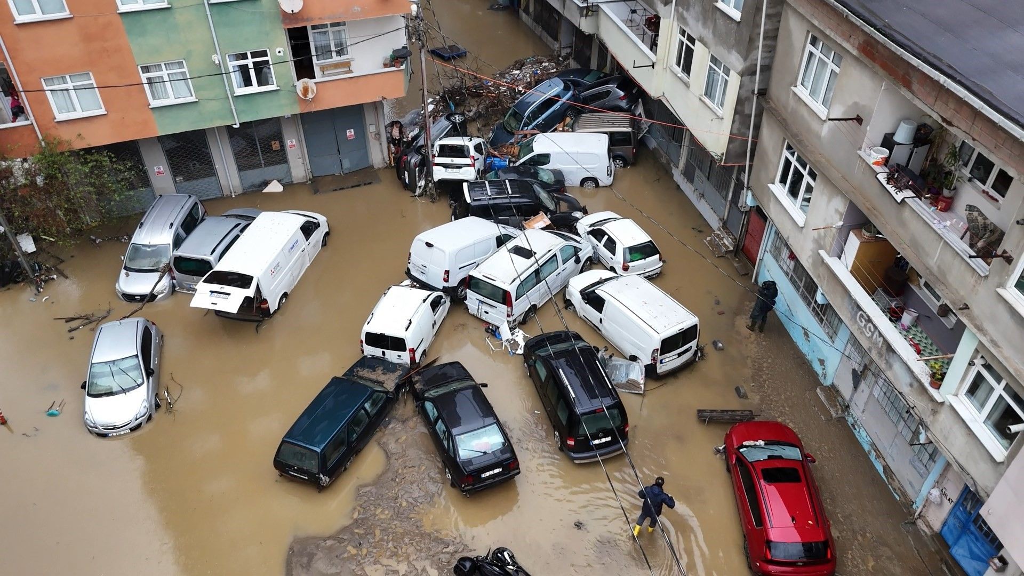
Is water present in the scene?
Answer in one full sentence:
Yes, water shows up in the scene.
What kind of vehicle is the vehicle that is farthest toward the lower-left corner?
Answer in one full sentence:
In the photo, the vehicle that is farthest toward the lower-left corner shows up as an automobile.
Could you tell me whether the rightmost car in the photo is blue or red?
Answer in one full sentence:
The color of the rightmost car is red.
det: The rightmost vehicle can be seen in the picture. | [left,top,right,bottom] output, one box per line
[726,427,835,576]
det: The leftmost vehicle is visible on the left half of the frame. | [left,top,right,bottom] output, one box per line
[77,318,161,431]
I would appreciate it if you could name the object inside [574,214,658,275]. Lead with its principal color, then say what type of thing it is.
white car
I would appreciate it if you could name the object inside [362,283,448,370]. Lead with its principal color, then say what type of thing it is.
white van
